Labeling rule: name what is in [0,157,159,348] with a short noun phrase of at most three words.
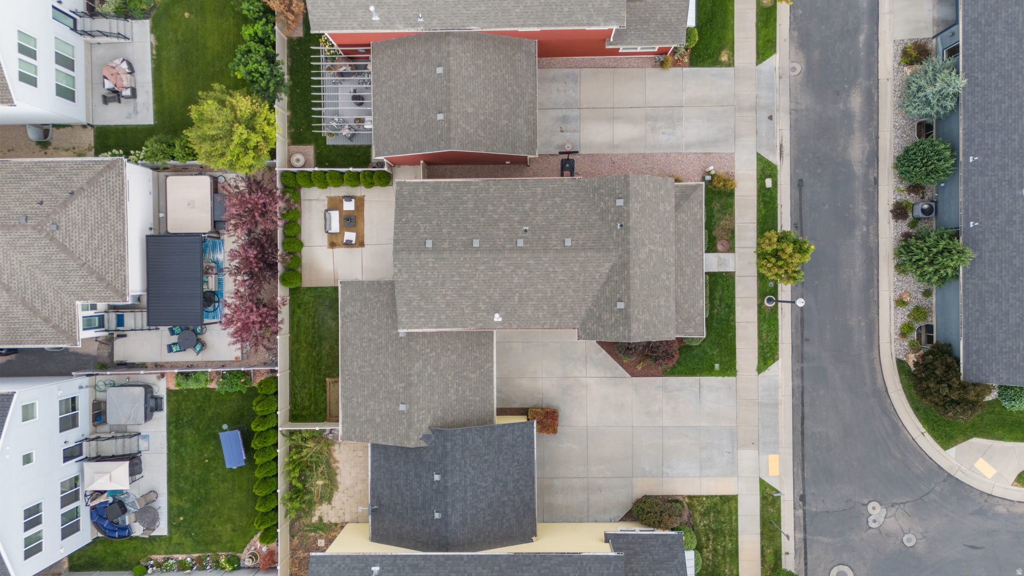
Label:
house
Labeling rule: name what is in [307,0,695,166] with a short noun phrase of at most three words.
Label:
house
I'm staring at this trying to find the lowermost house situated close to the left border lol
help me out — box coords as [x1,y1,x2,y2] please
[0,376,96,576]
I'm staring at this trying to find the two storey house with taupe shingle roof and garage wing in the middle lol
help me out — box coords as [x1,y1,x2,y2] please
[337,173,706,448]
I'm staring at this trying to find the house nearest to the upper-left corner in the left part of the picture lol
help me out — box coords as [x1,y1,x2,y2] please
[0,0,94,126]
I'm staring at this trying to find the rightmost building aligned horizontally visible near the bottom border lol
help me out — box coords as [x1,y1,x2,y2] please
[307,416,694,576]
